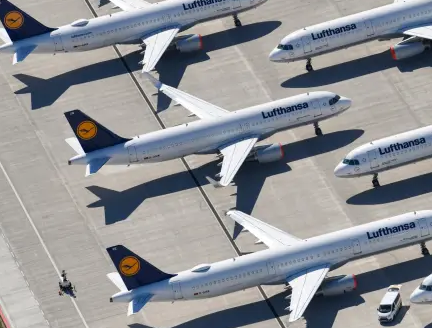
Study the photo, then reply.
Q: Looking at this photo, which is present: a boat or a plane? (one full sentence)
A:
Looking from above, you can make out a plane.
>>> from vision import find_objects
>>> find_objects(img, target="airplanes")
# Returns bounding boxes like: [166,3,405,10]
[332,125,432,187]
[0,0,264,75]
[106,210,432,327]
[268,0,432,72]
[65,71,351,188]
